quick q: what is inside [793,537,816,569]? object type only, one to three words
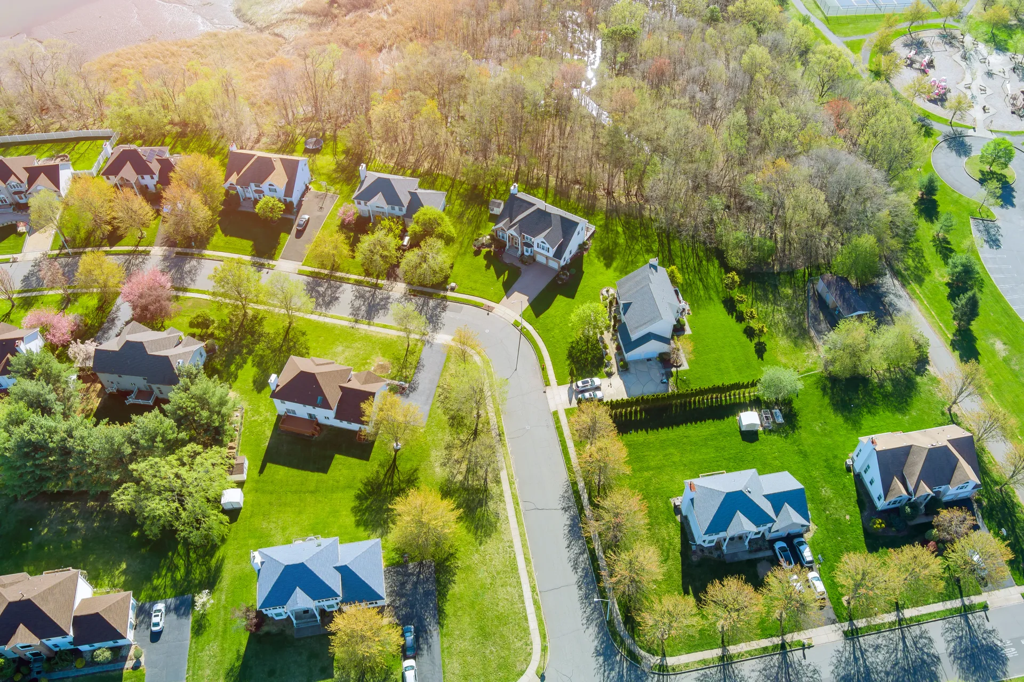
car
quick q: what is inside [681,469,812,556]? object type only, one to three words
house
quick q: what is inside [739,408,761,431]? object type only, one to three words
shed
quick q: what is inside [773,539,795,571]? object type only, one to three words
car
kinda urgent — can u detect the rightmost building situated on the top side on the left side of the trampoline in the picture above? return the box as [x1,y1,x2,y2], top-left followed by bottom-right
[216,140,307,209]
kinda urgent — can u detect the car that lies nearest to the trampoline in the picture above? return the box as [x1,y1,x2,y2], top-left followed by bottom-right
[295,214,310,232]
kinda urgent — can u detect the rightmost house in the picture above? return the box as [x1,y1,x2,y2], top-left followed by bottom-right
[851,423,979,515]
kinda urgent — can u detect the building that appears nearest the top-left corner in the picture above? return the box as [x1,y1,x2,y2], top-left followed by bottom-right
[0,154,71,210]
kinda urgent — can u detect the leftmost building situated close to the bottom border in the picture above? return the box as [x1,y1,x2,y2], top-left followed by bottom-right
[0,568,136,671]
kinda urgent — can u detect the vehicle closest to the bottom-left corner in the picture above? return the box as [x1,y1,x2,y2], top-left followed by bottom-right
[150,602,167,636]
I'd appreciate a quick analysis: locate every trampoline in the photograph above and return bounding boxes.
[302,134,323,150]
